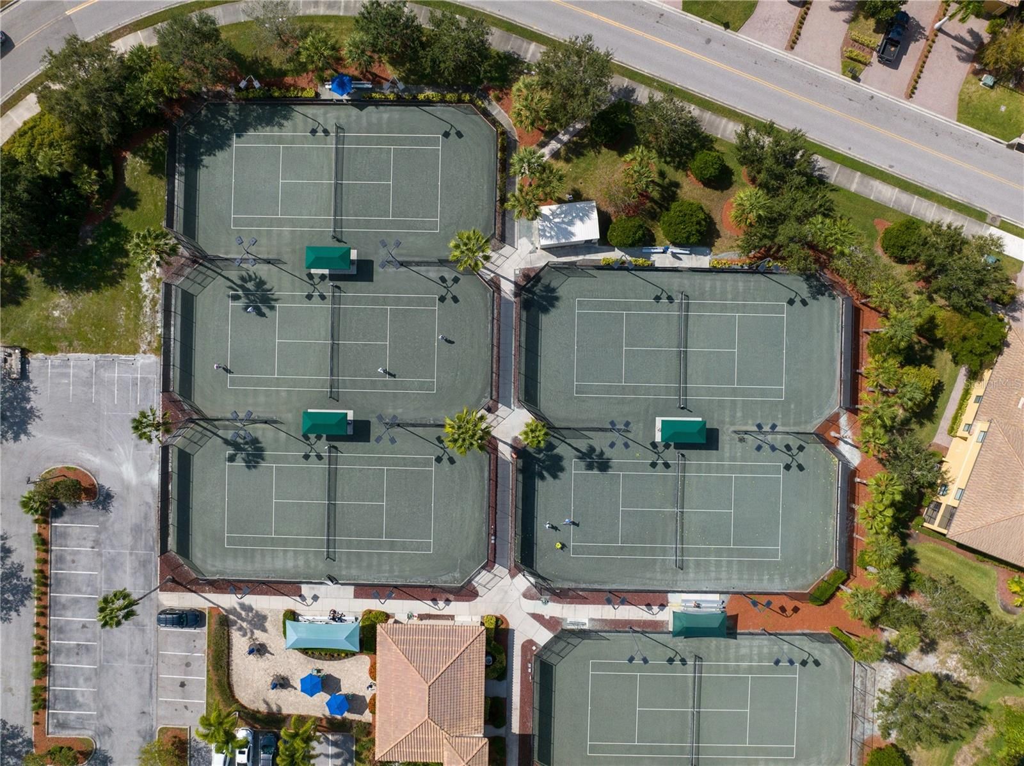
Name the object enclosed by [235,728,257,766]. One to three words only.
car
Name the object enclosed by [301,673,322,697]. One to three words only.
umbrella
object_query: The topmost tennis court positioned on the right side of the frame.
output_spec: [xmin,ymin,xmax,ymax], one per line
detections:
[520,264,839,433]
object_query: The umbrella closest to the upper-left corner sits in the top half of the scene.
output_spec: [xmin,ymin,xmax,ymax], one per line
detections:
[331,73,352,97]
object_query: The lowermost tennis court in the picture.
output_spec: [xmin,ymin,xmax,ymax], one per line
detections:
[534,631,853,766]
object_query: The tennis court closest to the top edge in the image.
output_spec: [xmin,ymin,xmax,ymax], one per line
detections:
[175,103,494,261]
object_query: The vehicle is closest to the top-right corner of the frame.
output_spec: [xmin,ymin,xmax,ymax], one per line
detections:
[875,10,913,67]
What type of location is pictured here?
sports ground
